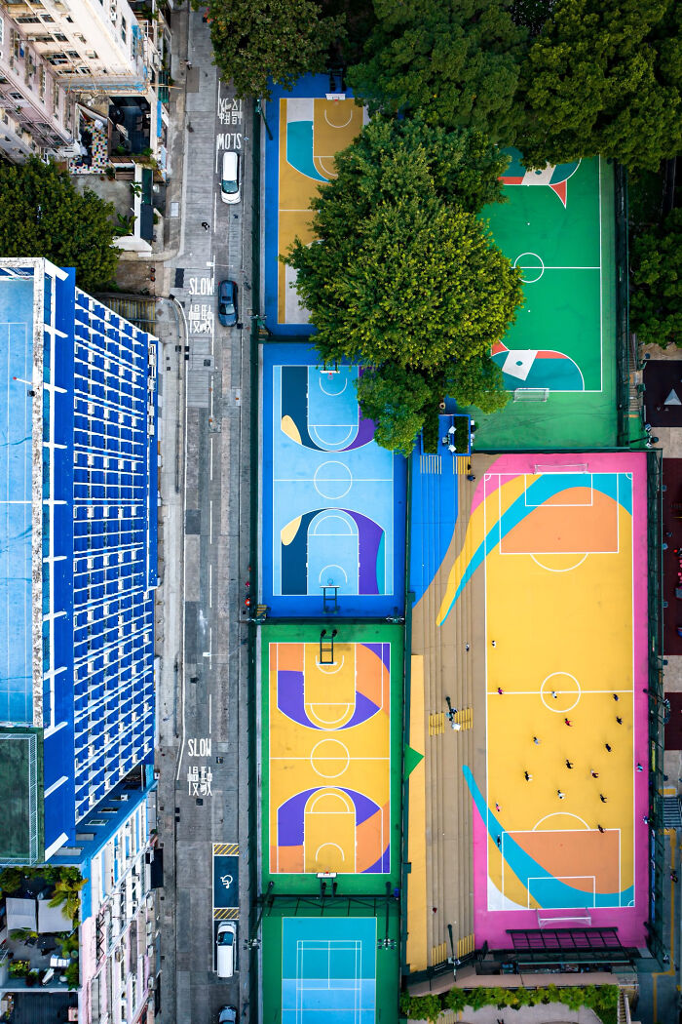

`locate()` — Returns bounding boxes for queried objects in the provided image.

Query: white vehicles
[216,923,238,978]
[217,149,240,202]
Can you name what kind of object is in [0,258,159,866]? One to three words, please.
building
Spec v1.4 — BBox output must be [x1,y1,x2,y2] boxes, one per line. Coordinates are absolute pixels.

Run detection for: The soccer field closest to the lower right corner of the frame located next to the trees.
[474,454,647,949]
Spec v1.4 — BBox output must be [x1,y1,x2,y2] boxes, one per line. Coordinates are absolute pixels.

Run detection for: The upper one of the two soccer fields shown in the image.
[417,107,615,448]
